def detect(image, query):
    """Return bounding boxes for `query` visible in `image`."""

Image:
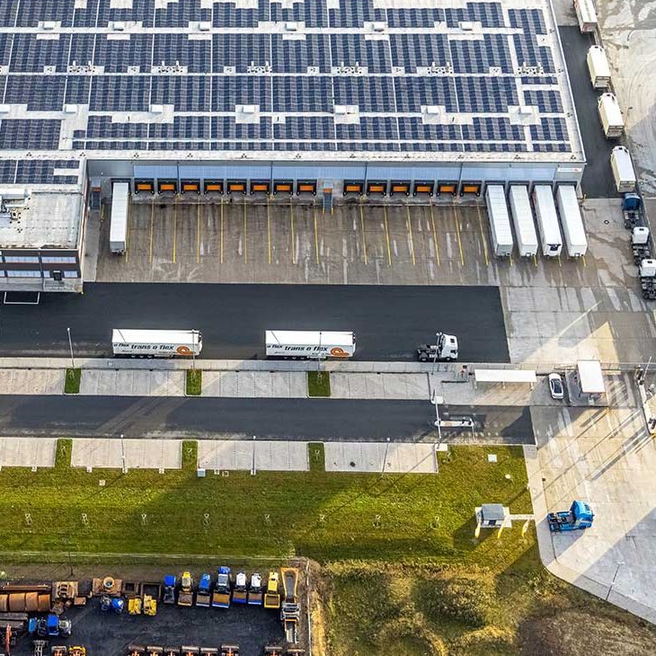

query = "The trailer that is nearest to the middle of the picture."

[265,327,358,356]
